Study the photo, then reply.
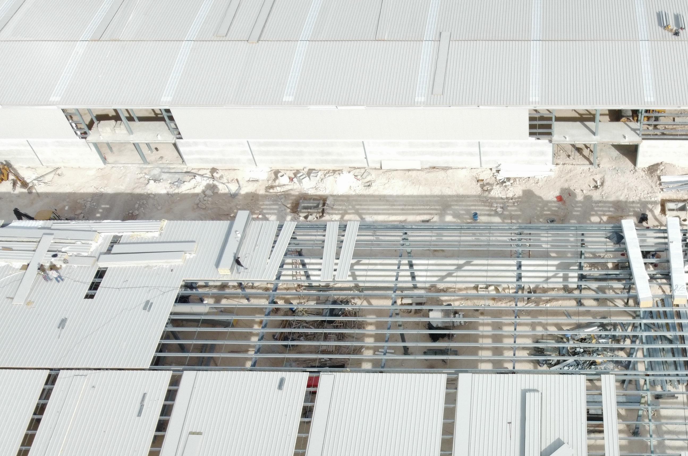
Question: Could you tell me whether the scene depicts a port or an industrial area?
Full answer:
This image shows an industrial area.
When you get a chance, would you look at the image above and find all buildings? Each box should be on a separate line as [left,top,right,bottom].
[0,220,688,456]
[0,0,688,168]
